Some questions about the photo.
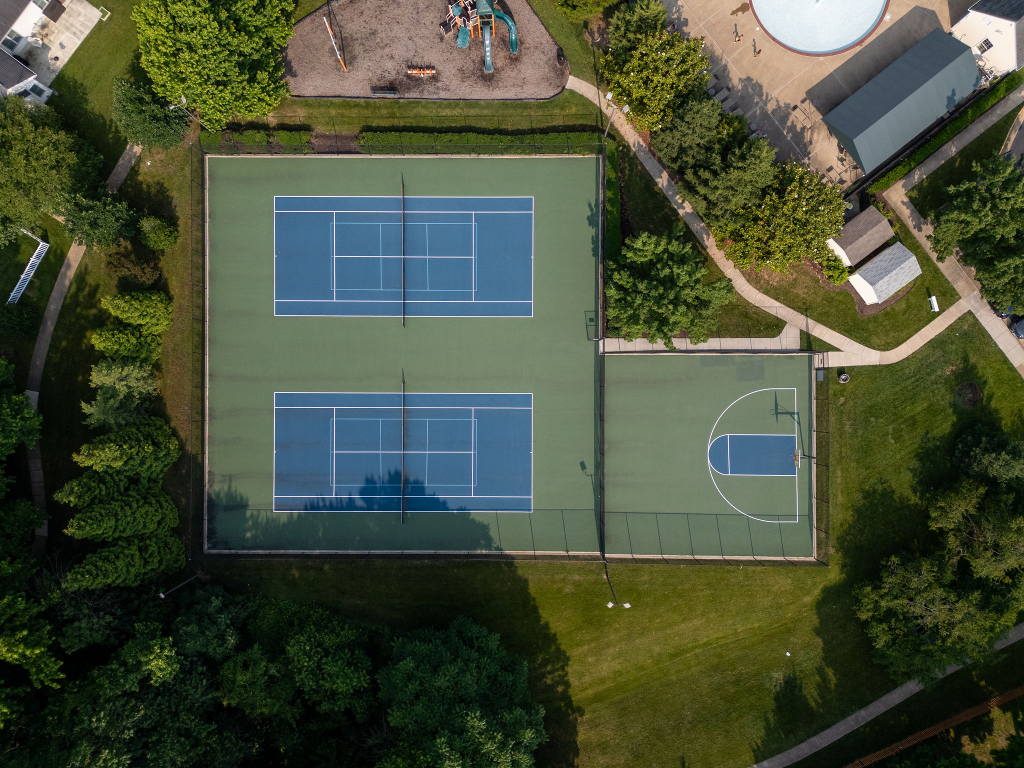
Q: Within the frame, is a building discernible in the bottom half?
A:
No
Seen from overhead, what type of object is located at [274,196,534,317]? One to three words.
tennis court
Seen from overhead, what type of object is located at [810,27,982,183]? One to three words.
building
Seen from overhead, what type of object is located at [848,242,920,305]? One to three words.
shed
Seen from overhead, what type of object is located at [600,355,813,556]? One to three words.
basketball court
